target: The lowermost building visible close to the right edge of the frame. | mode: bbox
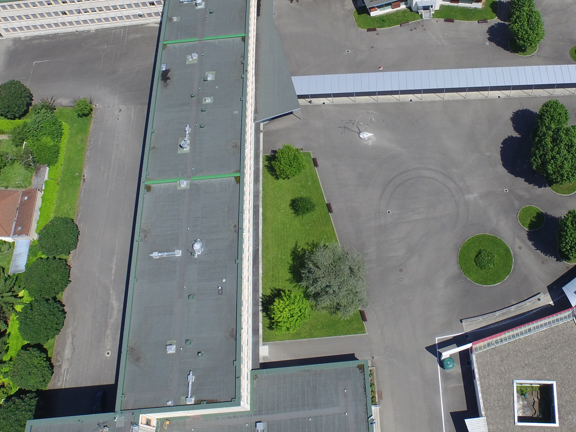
[470,307,576,432]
